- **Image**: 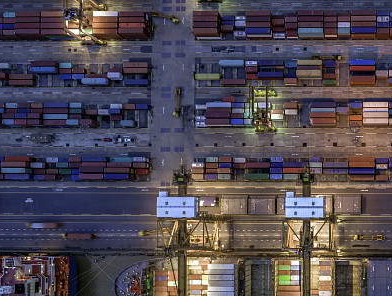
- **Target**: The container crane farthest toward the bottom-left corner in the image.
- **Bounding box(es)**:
[155,164,226,296]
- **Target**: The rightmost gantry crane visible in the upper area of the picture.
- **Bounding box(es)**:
[248,79,279,131]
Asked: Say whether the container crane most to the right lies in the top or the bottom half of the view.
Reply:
bottom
